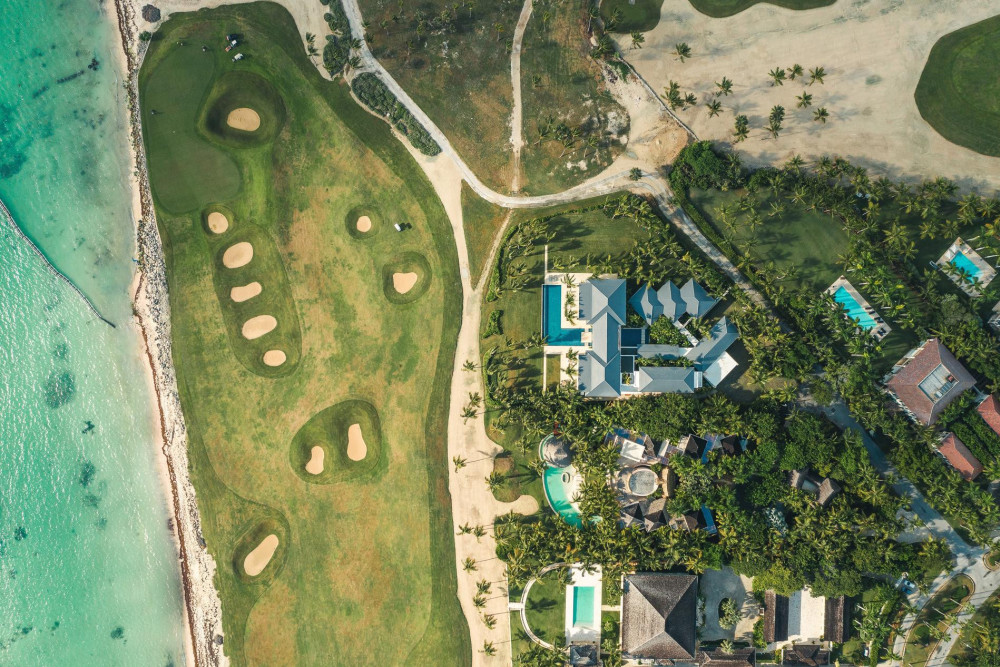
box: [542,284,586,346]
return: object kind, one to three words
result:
swimming pool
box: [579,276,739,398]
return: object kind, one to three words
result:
house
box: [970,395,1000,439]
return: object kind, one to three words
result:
house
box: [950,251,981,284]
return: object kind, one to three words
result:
swimming pool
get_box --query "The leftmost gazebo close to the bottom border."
[566,643,604,667]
